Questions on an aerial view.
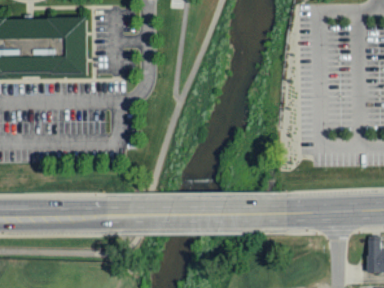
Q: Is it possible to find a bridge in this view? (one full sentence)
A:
Yes, there's a bridge down there.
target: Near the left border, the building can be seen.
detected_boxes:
[0,14,86,80]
